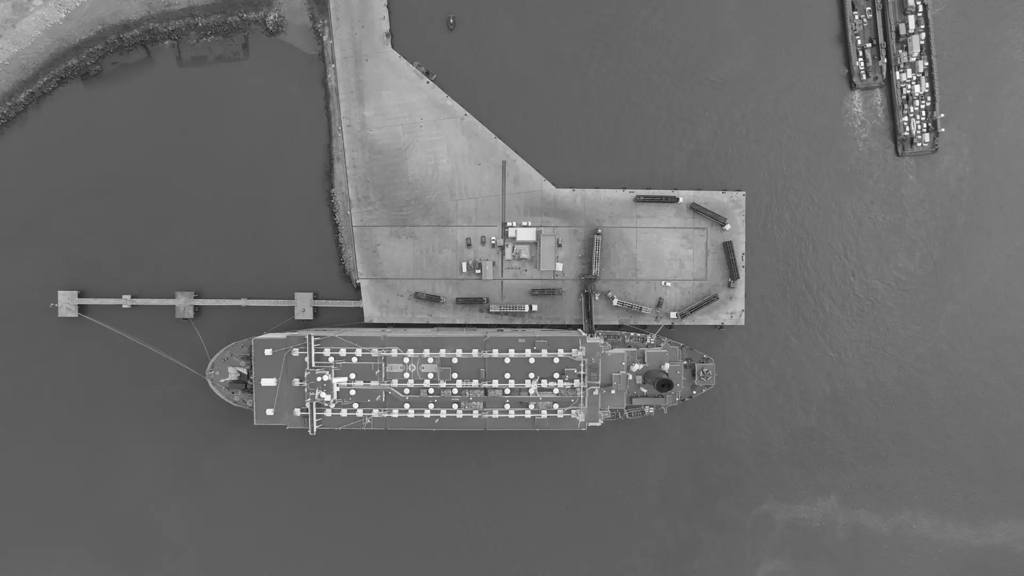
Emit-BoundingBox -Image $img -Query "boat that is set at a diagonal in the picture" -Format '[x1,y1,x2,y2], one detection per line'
[413,62,438,83]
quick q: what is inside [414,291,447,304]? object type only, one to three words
vehicle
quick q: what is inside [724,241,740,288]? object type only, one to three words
vehicle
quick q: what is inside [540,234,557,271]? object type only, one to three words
building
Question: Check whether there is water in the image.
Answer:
Yes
